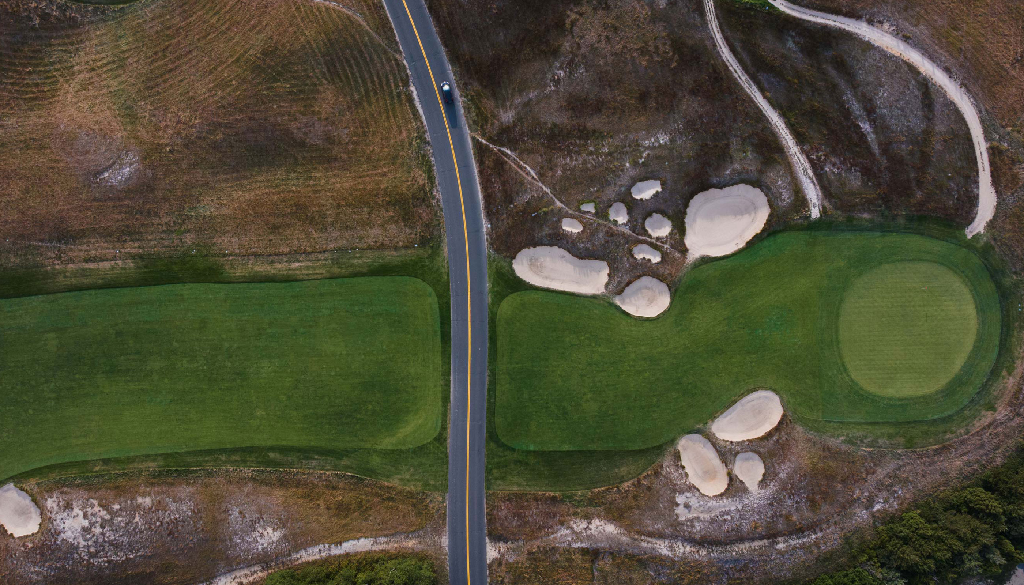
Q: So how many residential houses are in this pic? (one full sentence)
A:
The count of residential houses is 0.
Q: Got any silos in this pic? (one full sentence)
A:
No, the scene contains no silo.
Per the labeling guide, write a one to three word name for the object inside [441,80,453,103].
vehicle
